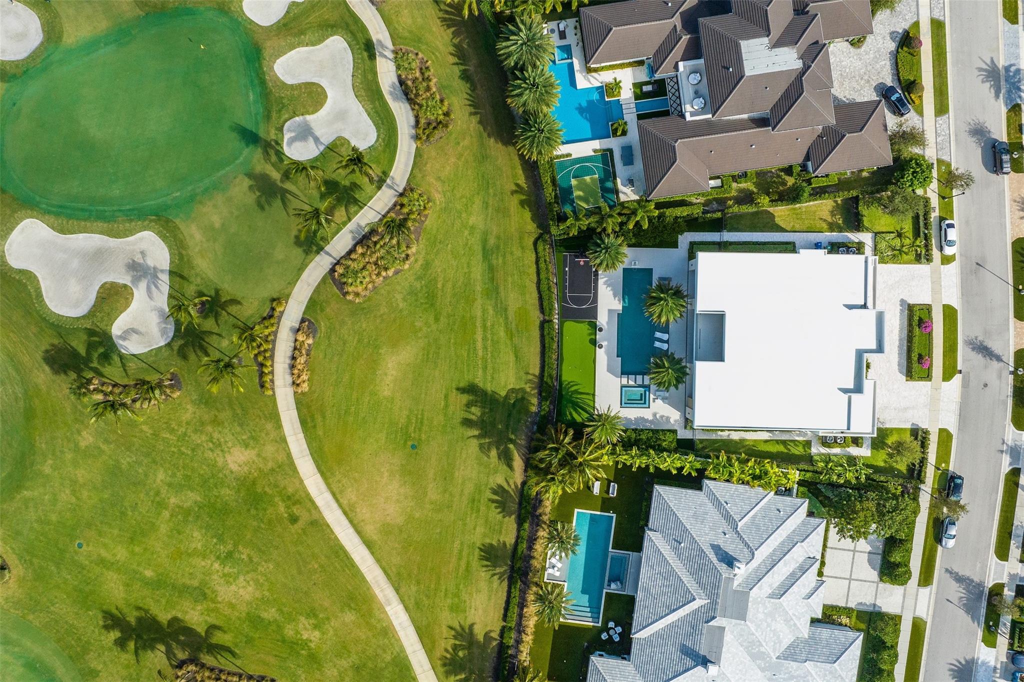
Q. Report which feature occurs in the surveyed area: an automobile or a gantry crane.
automobile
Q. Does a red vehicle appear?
No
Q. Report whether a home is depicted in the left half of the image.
No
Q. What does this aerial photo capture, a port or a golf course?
golf course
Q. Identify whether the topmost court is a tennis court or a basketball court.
basketball court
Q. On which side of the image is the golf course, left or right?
left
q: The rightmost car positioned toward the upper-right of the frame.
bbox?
[992,139,1011,174]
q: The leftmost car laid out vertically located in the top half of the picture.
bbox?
[939,220,955,254]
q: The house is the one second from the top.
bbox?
[685,249,887,437]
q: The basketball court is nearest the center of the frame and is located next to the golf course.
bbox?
[562,254,598,320]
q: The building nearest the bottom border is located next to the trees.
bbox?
[586,478,864,682]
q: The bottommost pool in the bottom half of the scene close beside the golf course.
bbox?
[545,509,616,625]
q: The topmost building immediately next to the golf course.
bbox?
[579,0,894,200]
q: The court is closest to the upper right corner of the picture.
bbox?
[555,151,620,216]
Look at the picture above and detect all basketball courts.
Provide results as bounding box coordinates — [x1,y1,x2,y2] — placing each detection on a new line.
[562,254,598,320]
[555,151,620,216]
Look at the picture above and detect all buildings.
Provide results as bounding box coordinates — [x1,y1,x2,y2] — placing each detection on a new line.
[586,478,864,682]
[685,249,887,437]
[579,0,894,200]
